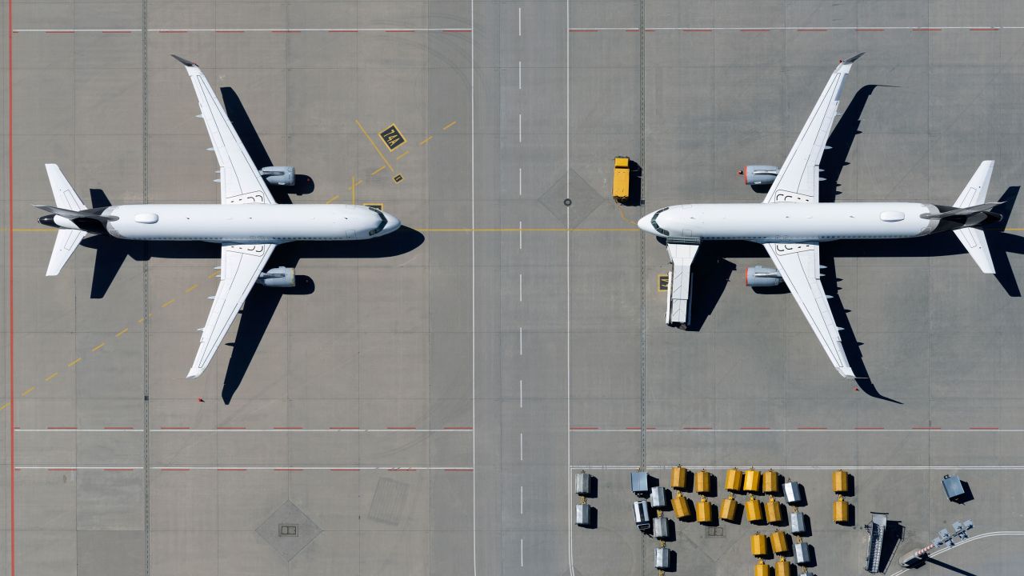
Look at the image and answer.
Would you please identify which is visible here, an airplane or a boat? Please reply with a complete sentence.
Visible in the photo is an airplane.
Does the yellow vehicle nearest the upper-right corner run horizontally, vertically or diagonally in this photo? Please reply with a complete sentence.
In this picture, the yellow vehicle nearest the upper-right corner lies vertically.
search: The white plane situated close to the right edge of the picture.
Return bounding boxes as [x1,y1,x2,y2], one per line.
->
[638,54,1008,380]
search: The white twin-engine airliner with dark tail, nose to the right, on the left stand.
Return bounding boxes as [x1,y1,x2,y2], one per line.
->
[31,54,401,380]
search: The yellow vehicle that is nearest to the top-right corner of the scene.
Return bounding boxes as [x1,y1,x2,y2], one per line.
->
[613,153,633,201]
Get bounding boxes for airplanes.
[638,54,1008,380]
[31,54,401,380]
